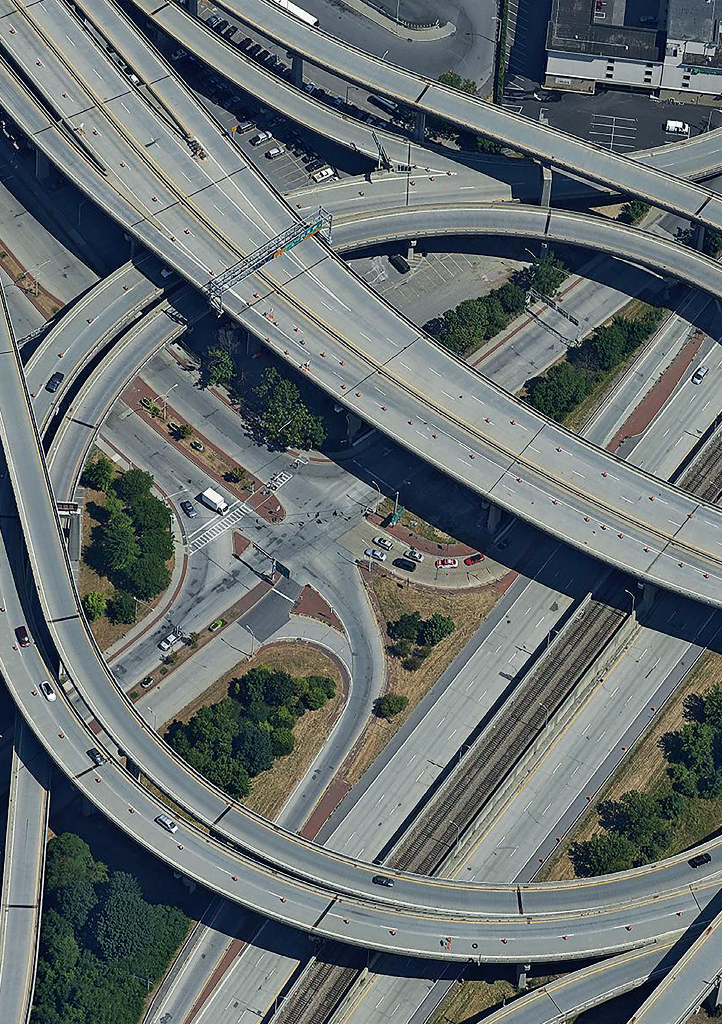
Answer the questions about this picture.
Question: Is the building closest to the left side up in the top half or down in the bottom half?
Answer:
top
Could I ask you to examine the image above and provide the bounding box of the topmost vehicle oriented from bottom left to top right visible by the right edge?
[693,367,708,384]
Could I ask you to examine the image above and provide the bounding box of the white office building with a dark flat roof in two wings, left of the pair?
[540,0,666,99]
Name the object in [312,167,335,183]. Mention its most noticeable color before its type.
white vehicle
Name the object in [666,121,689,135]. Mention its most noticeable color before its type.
white vehicle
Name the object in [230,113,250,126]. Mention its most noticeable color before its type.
black vehicle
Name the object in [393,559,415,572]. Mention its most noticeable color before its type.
black vehicle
